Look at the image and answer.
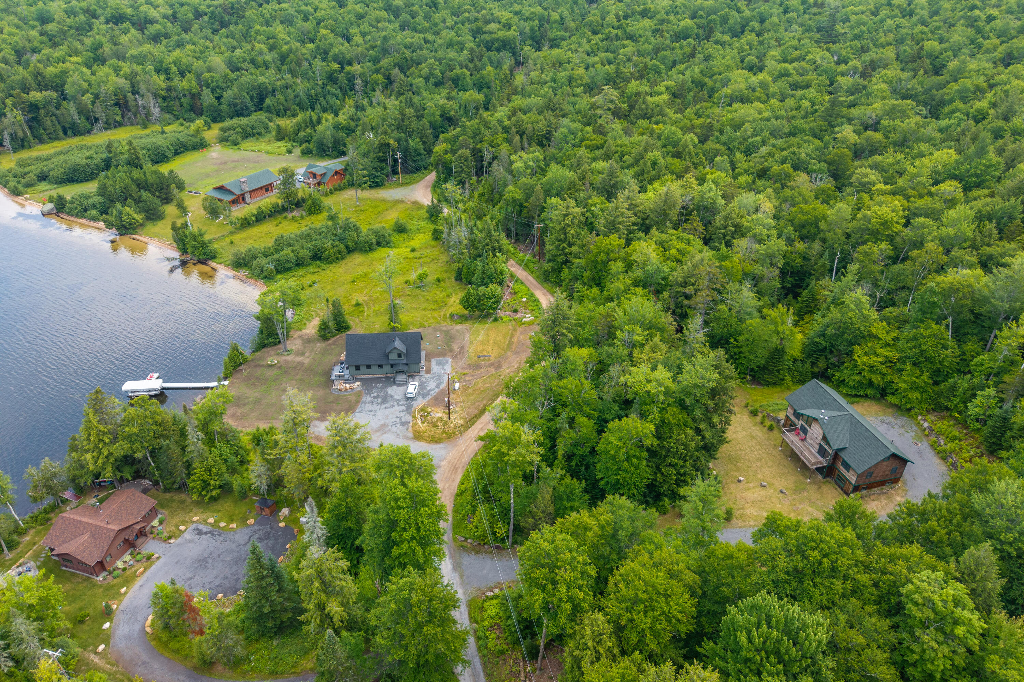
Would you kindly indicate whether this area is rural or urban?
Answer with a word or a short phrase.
rural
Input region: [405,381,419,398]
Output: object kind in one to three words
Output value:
car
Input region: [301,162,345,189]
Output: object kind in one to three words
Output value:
house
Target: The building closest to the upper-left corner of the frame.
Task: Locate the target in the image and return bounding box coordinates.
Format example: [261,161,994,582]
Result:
[205,168,281,209]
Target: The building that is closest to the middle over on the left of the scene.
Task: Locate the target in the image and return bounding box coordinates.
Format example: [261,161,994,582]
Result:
[330,332,423,384]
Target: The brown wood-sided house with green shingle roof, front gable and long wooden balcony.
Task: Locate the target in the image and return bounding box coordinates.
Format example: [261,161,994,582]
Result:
[778,379,915,492]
